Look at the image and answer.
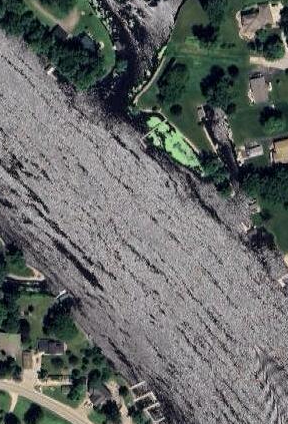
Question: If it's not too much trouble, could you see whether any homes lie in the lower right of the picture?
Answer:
No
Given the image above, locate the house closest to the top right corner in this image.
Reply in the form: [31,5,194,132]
[239,5,272,38]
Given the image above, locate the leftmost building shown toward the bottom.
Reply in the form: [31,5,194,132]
[0,332,21,356]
